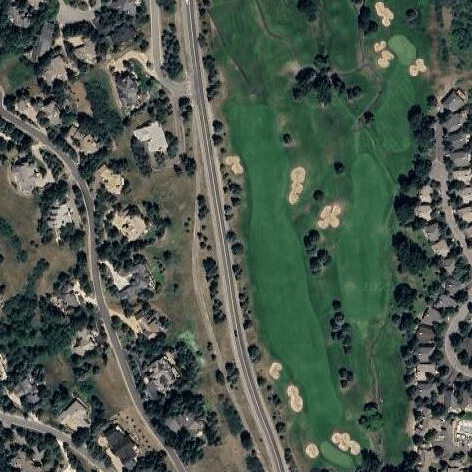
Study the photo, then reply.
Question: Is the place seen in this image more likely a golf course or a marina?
golf course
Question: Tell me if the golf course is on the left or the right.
right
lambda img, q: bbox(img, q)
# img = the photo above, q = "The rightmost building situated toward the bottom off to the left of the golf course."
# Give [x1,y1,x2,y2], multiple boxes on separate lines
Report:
[167,407,202,436]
